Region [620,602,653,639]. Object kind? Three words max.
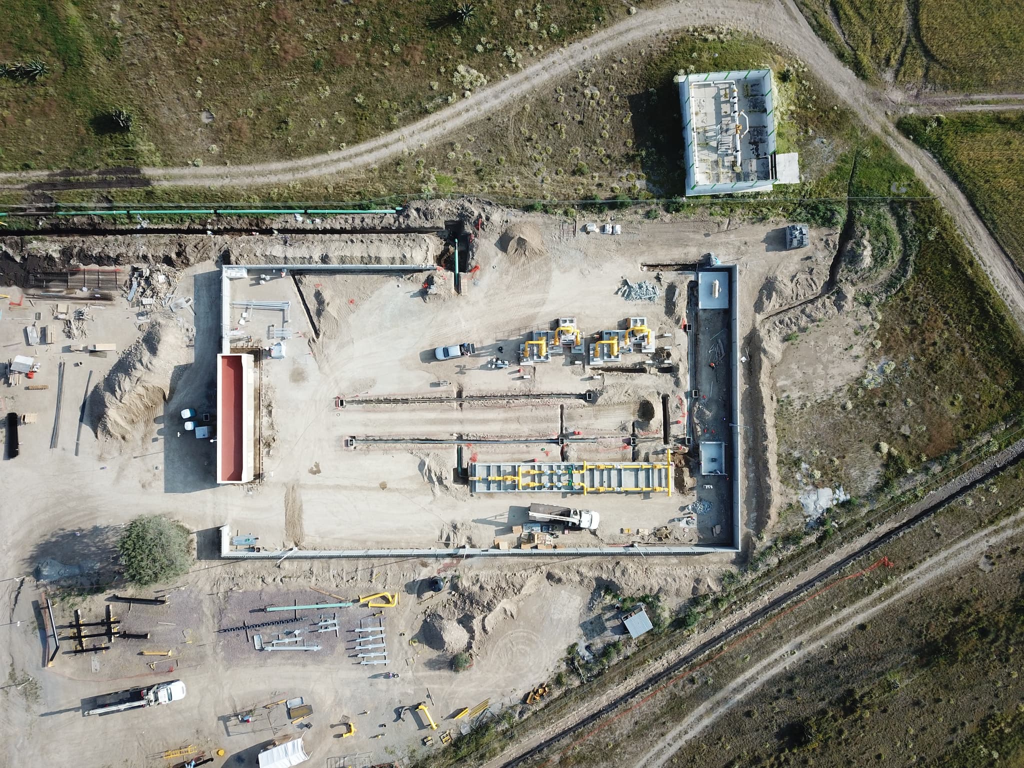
shed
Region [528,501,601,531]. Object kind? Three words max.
truck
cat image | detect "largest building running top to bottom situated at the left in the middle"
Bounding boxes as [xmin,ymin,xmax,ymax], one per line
[212,353,262,484]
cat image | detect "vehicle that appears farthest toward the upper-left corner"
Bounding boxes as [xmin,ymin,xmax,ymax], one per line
[433,343,475,360]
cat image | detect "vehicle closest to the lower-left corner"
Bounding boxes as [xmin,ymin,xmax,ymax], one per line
[83,680,190,717]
